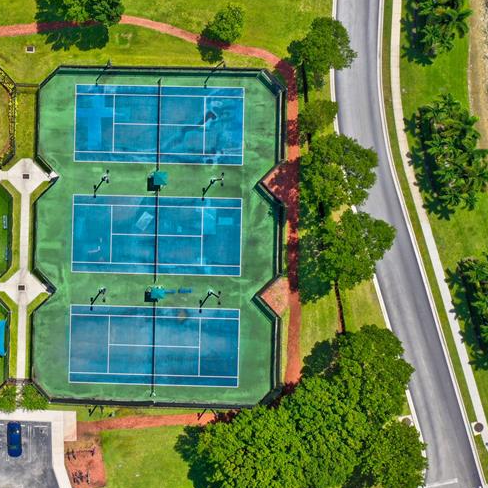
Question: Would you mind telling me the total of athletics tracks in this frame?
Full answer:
There are no athletics tracks in the image.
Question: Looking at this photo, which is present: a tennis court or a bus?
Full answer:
There is a tennis court in the scene.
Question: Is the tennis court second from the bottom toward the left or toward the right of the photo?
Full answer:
It is on the left.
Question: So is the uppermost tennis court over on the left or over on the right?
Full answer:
The uppermost tennis court sits on the left side.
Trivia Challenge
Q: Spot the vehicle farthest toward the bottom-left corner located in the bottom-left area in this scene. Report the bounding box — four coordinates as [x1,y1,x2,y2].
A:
[6,423,22,458]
